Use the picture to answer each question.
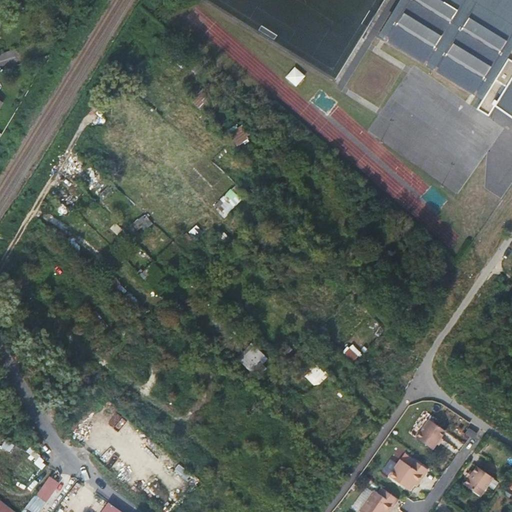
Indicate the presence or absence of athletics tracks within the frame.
Yes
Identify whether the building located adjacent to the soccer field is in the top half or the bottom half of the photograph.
top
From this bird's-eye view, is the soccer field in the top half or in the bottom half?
top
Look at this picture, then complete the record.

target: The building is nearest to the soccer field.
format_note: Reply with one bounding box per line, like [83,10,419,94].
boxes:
[378,0,512,100]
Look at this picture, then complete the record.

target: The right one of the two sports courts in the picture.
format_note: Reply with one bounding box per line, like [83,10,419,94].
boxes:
[484,108,512,199]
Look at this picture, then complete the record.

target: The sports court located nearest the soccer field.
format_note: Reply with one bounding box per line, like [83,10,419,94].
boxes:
[367,66,505,195]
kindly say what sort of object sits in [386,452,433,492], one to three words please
house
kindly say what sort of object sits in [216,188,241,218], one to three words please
shed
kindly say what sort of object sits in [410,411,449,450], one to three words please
house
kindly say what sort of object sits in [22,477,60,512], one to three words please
building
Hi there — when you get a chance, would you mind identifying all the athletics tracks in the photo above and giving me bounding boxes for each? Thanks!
[186,6,459,245]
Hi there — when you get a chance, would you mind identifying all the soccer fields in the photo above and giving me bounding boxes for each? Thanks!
[210,0,383,79]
